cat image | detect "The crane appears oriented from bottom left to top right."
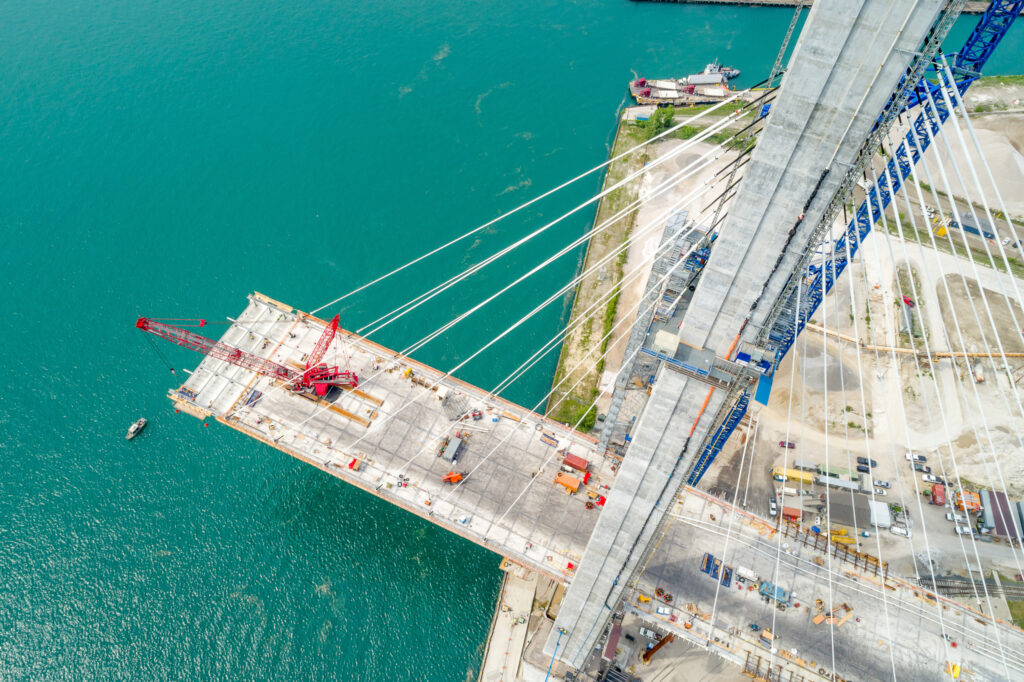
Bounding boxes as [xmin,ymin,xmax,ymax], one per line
[689,0,1024,486]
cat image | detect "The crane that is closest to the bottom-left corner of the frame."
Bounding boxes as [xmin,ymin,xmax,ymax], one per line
[133,316,351,408]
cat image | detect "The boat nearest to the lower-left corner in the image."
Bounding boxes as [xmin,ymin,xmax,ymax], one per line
[129,418,148,440]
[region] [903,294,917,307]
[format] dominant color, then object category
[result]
red vehicle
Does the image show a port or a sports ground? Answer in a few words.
port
